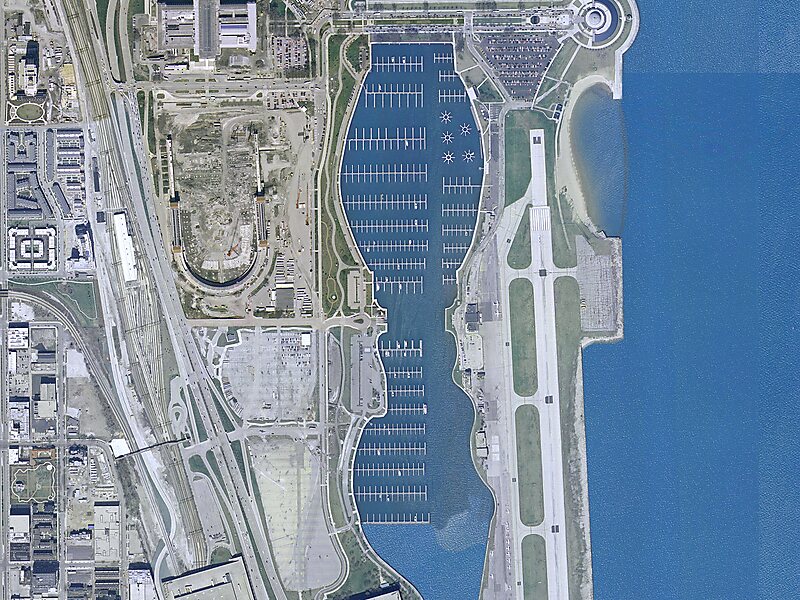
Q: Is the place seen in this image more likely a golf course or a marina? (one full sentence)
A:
The area seen from above is a marina.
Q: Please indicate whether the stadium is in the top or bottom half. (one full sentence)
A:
Seen from above, the stadium lies in the top half of the view.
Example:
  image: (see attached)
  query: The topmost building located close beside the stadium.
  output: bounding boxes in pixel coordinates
[158,0,256,65]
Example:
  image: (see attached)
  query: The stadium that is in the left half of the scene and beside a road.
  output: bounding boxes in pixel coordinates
[166,106,269,300]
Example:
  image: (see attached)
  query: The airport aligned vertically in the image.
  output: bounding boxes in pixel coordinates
[478,111,623,600]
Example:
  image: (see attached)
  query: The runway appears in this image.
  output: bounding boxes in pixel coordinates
[530,208,569,600]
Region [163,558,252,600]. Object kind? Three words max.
building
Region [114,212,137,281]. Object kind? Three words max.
shed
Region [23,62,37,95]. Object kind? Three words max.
building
